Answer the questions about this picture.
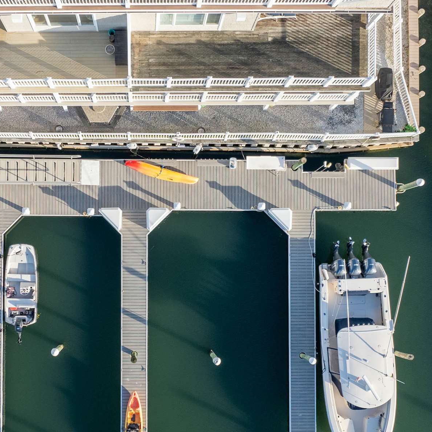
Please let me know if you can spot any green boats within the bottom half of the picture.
No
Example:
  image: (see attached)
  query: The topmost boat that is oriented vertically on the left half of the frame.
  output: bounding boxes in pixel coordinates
[4,244,38,341]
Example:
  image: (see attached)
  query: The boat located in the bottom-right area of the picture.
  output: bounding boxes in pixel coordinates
[318,238,410,432]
